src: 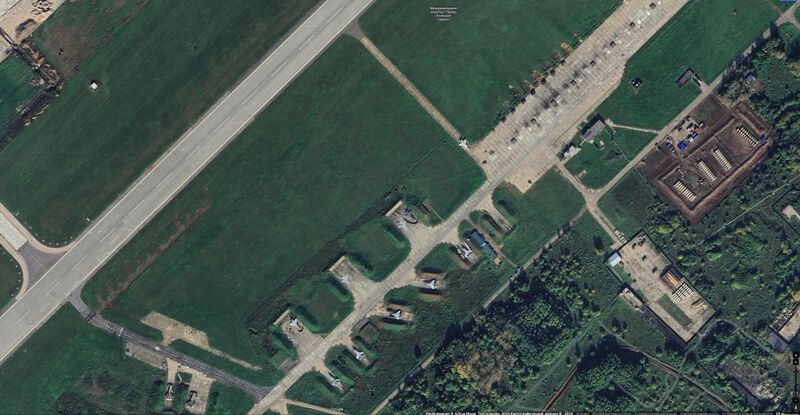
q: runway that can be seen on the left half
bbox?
[0,0,373,360]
